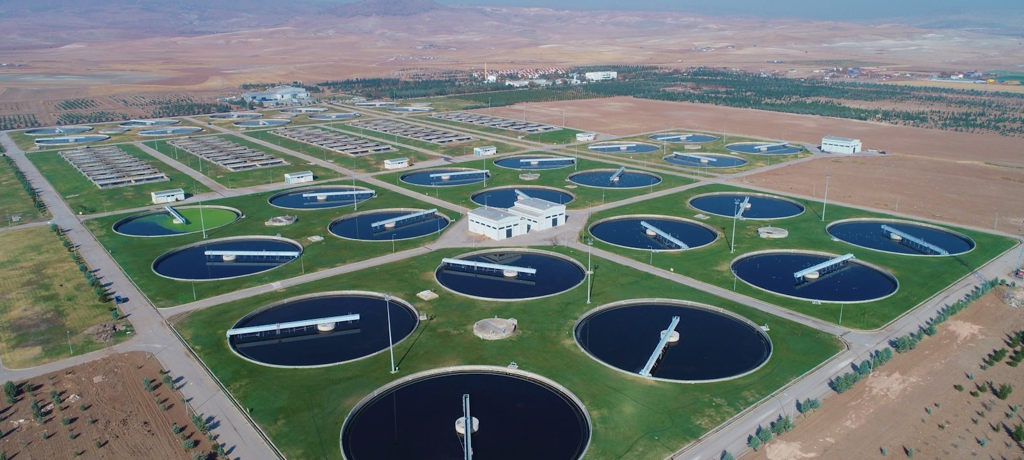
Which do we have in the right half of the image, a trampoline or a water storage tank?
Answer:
water storage tank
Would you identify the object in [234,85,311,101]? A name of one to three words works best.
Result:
building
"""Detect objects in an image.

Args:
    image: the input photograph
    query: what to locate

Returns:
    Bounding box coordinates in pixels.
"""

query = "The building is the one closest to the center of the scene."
[470,197,567,240]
